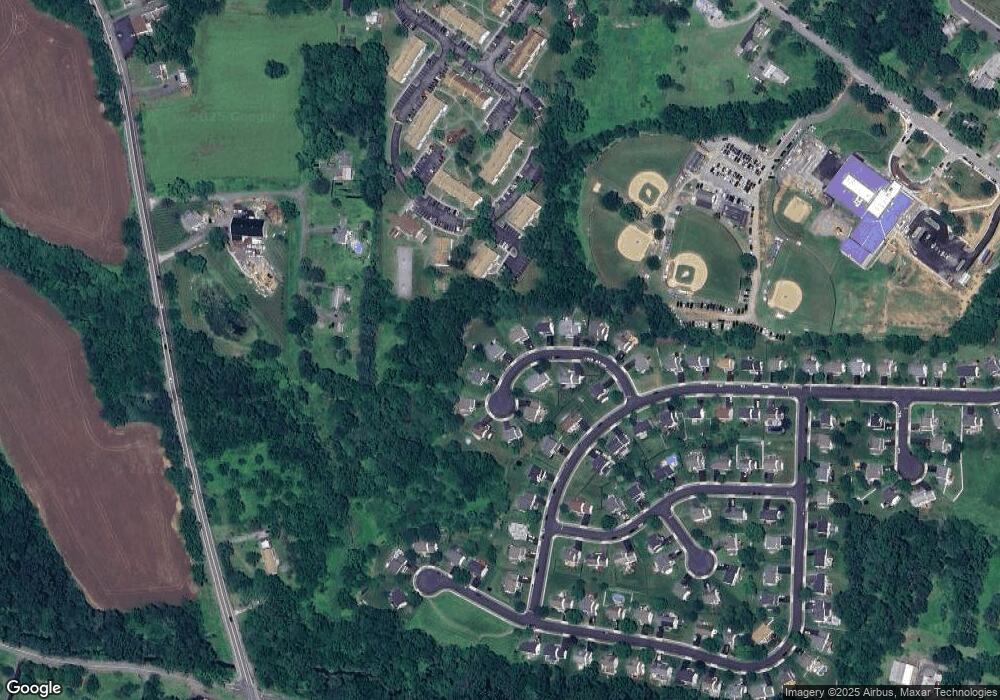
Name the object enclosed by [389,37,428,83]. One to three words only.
building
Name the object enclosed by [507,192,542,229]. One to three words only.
building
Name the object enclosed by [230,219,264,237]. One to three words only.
barn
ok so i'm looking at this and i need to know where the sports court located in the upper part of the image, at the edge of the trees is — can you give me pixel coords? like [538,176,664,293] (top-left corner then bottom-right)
[396,247,412,298]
